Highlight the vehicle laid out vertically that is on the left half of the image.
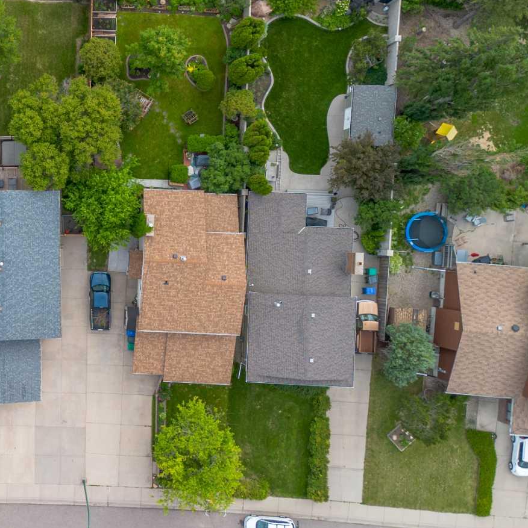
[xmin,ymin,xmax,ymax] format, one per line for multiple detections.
[90,273,114,331]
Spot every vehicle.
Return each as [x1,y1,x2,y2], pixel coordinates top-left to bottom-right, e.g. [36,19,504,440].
[90,273,114,331]
[357,300,381,356]
[510,436,528,477]
[242,513,297,528]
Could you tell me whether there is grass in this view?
Yes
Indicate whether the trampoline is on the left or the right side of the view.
right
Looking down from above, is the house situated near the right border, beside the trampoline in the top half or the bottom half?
bottom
